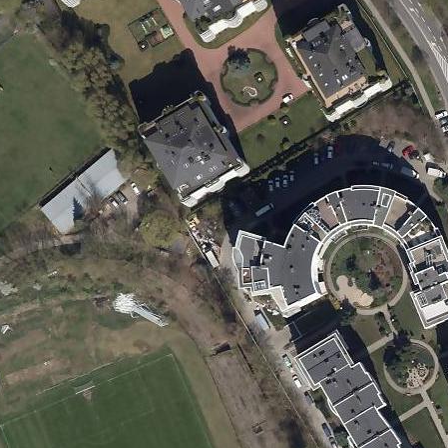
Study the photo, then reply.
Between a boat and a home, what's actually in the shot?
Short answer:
home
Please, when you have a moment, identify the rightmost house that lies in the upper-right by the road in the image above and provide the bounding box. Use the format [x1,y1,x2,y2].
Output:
[287,4,378,119]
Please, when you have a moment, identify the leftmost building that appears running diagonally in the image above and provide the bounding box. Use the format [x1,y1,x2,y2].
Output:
[36,145,127,235]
